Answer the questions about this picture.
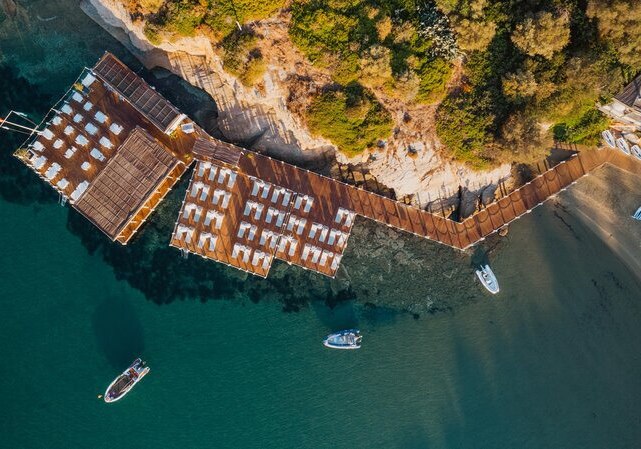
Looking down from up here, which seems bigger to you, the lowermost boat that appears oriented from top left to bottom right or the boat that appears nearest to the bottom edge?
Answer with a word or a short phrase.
the boat that appears nearest to the bottom edge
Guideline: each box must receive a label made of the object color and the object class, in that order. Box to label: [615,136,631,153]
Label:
white boat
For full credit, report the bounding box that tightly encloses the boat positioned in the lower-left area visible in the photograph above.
[102,359,148,403]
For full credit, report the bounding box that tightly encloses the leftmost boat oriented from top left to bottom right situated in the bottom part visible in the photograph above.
[476,264,500,295]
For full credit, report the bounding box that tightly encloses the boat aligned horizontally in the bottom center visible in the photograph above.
[322,333,363,351]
